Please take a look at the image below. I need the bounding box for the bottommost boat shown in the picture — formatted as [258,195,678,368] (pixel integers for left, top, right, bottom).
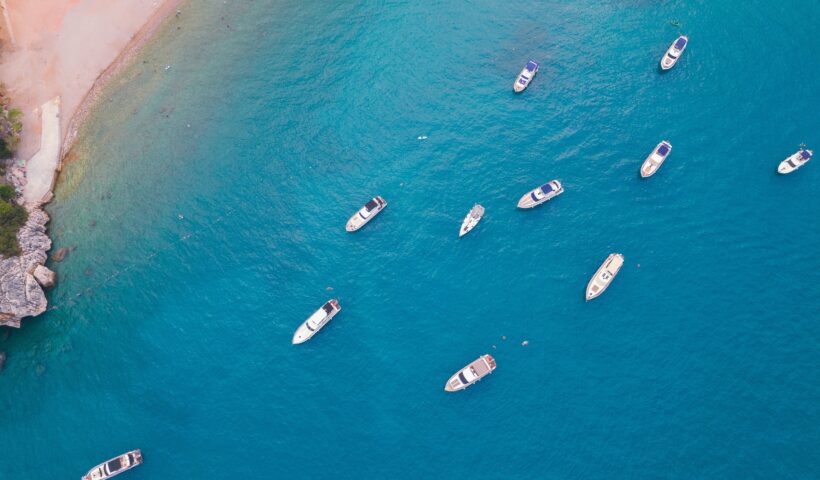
[80,450,143,480]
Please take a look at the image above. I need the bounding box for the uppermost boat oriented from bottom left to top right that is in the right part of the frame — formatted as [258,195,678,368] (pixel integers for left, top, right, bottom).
[661,33,689,70]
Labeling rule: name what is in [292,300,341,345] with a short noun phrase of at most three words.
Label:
boat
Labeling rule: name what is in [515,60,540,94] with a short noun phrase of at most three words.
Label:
boat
